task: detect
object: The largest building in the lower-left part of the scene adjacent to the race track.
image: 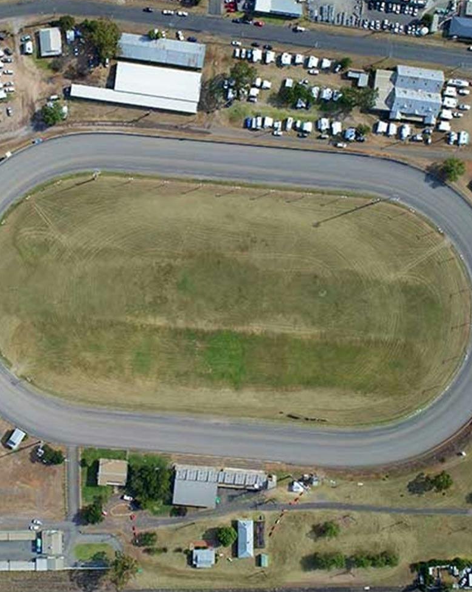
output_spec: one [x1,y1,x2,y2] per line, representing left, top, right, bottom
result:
[98,458,127,486]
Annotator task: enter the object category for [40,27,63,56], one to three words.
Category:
shed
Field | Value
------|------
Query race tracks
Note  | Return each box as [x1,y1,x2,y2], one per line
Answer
[0,132,472,468]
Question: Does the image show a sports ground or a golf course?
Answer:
sports ground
